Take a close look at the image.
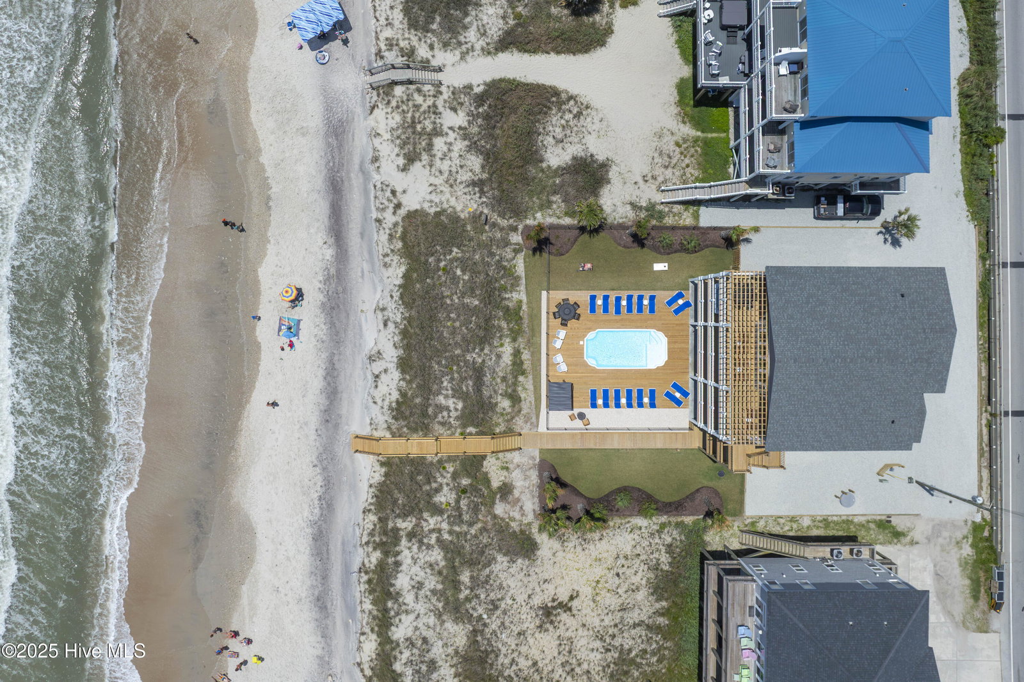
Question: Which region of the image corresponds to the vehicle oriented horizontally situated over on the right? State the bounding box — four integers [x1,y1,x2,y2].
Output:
[814,195,880,218]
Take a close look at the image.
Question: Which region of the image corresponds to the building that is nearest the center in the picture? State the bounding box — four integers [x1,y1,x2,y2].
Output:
[548,381,573,411]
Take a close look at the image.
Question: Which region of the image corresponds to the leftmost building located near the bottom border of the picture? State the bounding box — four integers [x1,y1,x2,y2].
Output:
[697,543,940,682]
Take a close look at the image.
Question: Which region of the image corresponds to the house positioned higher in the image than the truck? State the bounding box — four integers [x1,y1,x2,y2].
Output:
[731,0,952,202]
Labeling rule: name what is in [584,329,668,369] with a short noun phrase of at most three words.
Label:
swimming pool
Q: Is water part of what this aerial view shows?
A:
Yes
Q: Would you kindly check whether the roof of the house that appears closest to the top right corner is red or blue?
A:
blue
